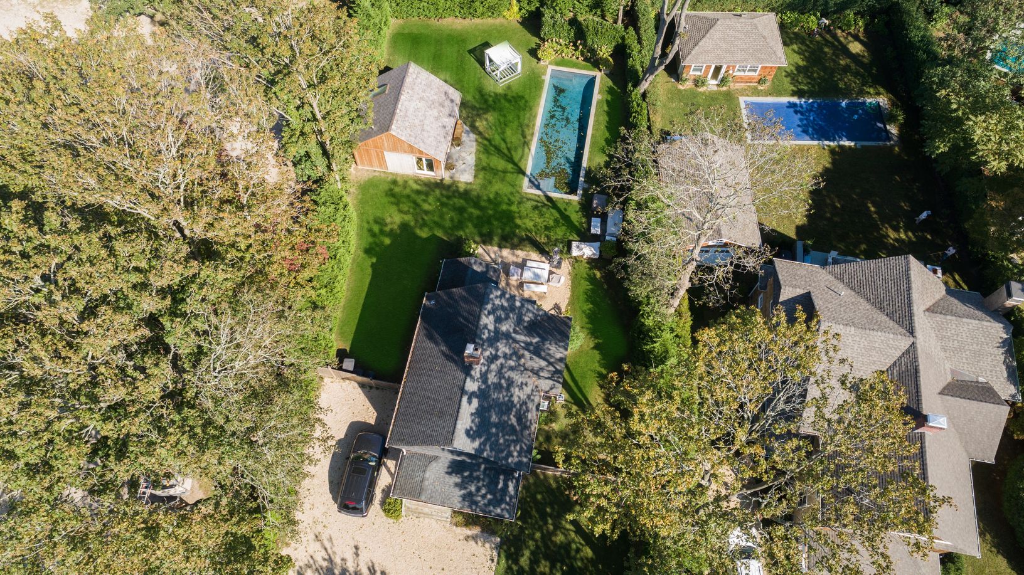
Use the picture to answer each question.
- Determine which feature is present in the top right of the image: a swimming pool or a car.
swimming pool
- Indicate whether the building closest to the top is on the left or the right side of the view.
right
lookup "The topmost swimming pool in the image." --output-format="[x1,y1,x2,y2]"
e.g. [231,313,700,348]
[988,37,1024,70]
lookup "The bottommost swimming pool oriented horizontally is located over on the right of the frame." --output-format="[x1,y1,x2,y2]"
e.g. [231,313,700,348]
[739,96,899,145]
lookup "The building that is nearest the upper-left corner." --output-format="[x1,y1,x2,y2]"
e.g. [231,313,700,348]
[353,61,463,178]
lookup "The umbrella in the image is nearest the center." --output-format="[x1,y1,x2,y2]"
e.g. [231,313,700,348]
[549,253,563,275]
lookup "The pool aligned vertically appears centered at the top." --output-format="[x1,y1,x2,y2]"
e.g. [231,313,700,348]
[523,65,601,199]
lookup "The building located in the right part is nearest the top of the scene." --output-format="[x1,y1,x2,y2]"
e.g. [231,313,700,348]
[675,11,787,94]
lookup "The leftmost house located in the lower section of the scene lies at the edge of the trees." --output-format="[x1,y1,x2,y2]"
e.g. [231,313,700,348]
[386,257,572,522]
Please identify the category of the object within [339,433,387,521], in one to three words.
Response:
car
